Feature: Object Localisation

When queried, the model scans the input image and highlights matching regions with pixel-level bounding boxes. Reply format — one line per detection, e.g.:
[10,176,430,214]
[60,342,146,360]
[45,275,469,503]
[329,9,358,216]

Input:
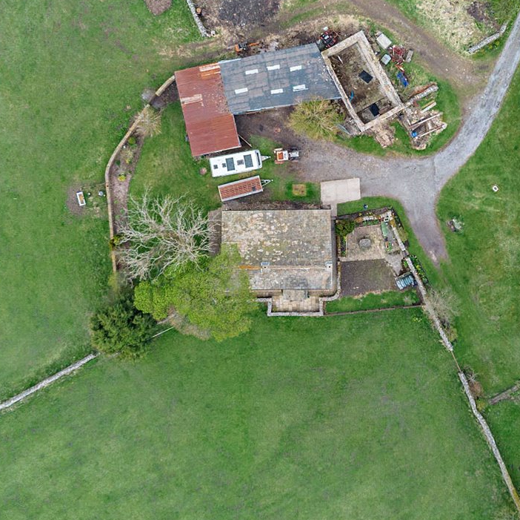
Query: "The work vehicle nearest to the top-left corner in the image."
[234,42,263,56]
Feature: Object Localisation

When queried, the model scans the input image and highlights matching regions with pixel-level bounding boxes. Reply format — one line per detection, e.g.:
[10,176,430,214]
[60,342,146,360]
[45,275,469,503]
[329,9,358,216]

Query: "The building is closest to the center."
[219,207,335,301]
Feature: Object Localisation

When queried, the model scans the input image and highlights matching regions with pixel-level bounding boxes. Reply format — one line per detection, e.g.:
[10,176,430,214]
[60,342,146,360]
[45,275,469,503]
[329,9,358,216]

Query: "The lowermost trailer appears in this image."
[218,174,269,203]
